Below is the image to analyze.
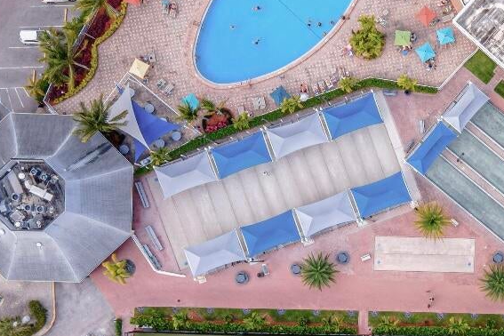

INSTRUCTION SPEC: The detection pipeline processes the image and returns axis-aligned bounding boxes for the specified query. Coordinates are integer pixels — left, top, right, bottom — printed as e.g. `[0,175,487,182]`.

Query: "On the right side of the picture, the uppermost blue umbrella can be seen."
[436,27,454,45]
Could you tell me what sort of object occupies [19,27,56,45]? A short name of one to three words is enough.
car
